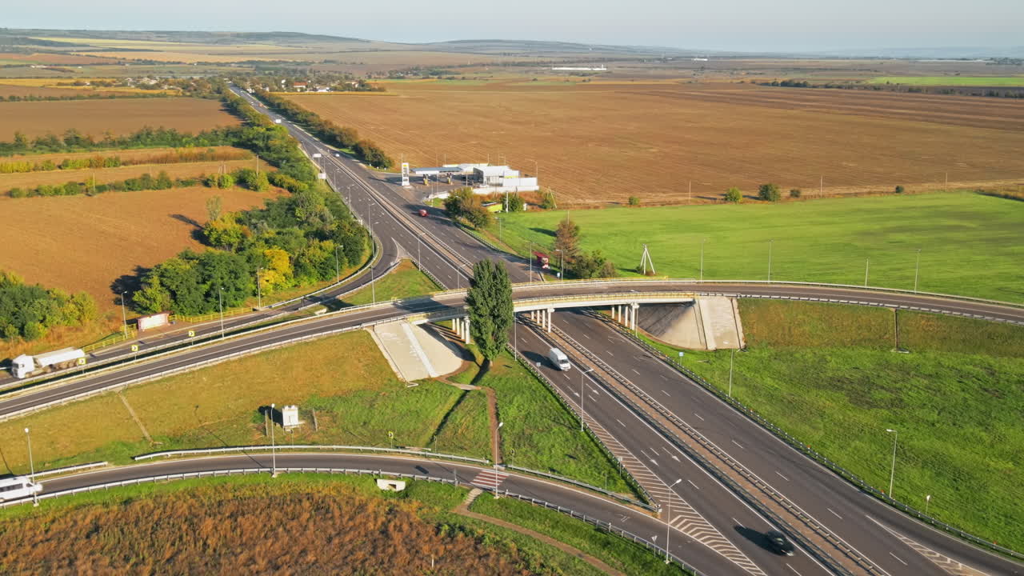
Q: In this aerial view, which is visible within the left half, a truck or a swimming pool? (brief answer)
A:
truck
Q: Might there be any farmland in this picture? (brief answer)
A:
Yes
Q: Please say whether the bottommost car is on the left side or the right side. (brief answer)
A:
right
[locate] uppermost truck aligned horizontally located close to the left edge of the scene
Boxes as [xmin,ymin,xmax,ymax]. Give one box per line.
[8,346,83,378]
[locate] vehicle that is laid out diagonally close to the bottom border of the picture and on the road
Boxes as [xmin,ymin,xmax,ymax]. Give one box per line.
[765,531,796,554]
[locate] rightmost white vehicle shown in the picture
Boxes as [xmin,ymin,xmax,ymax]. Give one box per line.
[550,349,570,369]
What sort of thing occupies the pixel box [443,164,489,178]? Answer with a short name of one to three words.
building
